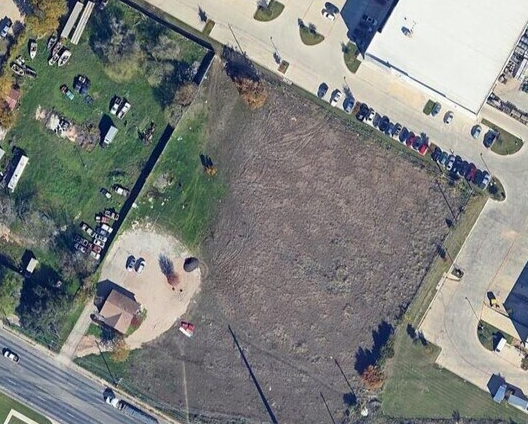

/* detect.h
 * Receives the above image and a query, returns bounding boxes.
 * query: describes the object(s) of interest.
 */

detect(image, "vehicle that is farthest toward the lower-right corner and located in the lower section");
[507,395,528,412]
